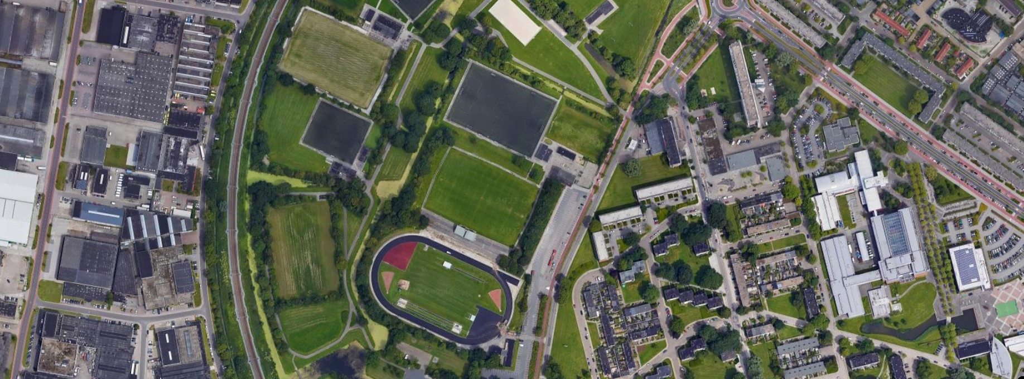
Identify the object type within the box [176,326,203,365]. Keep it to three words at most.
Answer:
building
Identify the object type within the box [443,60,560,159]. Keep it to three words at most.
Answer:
soccer field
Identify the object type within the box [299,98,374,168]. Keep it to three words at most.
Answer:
sports field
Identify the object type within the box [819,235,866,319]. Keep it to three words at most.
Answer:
building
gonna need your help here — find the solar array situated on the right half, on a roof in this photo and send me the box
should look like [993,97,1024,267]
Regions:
[954,249,980,285]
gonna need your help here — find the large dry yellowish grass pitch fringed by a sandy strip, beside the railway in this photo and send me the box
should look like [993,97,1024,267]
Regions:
[280,7,395,113]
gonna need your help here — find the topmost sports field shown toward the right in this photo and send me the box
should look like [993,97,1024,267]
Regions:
[600,8,661,55]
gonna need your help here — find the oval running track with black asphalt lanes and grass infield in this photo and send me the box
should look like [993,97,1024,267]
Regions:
[369,233,520,344]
